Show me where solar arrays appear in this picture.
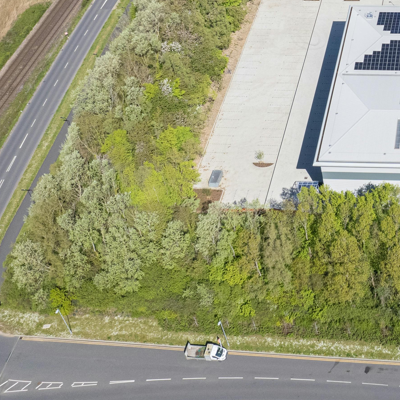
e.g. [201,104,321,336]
[378,14,400,32]
[354,43,400,73]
